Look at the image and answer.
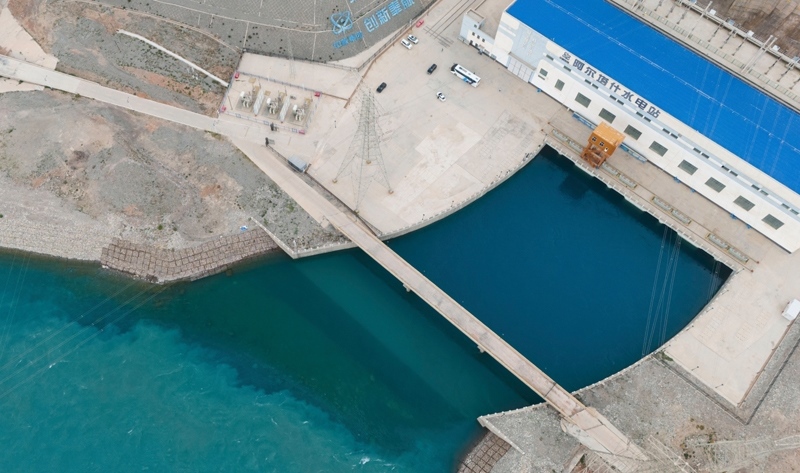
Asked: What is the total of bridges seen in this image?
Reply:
1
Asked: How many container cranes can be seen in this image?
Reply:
one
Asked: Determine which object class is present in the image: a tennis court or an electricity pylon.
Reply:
electricity pylon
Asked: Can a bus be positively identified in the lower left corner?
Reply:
No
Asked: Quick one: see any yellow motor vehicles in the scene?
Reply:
No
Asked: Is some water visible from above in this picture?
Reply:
Yes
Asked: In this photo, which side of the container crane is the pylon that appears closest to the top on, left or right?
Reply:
to the left of it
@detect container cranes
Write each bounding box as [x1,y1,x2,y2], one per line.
[578,121,626,171]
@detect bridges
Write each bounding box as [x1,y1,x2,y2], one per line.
[332,213,590,425]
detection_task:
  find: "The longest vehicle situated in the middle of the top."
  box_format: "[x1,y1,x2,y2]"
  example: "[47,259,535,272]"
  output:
[450,62,484,87]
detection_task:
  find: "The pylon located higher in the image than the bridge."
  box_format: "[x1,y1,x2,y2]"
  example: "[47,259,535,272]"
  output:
[330,85,395,213]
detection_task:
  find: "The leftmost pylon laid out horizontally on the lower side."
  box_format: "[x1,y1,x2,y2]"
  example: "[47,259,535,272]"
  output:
[578,428,701,473]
